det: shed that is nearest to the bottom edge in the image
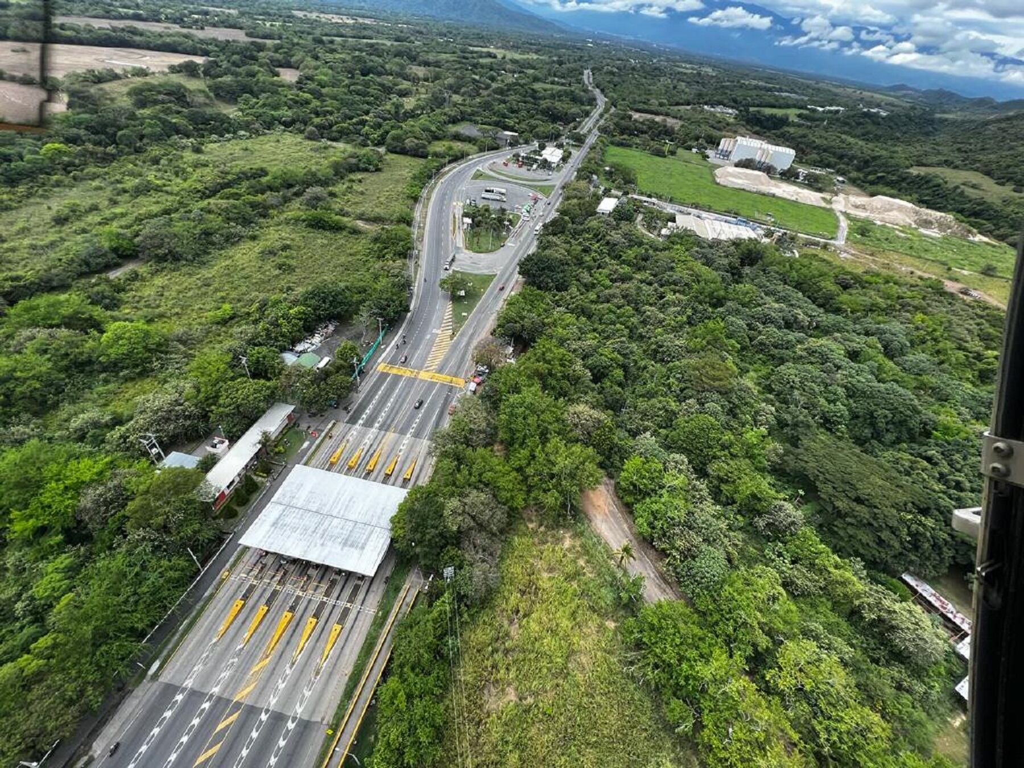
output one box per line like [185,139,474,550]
[954,678,973,712]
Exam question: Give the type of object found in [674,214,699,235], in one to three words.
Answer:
building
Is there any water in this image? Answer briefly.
No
